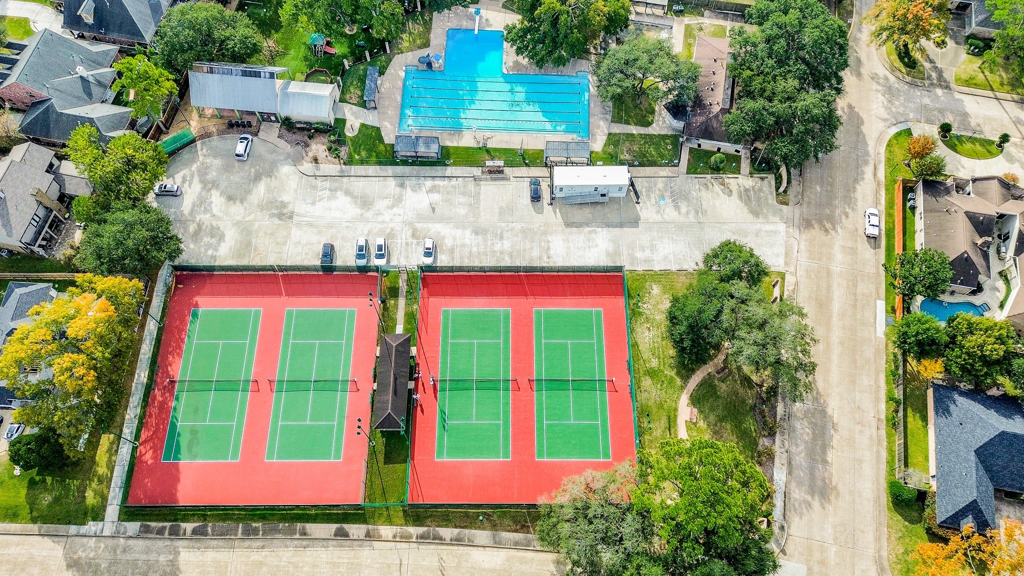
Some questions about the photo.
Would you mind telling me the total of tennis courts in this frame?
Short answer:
4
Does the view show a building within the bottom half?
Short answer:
Yes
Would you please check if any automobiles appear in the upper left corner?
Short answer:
Yes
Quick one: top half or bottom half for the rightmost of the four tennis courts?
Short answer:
bottom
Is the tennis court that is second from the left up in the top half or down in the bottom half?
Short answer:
bottom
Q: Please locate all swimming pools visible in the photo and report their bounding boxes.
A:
[396,28,591,141]
[918,296,993,322]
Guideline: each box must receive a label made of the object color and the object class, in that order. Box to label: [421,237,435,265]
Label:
white car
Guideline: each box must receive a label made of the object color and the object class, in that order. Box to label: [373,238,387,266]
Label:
white car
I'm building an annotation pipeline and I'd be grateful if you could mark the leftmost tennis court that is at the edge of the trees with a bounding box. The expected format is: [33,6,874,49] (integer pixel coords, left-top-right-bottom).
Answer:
[127,272,277,503]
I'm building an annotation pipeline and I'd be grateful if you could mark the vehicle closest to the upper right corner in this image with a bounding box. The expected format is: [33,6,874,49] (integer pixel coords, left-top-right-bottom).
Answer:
[865,208,882,239]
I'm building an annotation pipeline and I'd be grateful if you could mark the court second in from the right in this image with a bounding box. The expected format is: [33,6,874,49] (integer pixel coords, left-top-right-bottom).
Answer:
[409,273,523,501]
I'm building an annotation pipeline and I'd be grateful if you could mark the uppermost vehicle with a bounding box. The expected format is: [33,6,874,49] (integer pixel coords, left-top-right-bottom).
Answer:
[234,136,251,161]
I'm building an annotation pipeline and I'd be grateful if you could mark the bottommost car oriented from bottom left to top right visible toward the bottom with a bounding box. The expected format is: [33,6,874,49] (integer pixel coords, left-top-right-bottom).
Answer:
[0,417,24,447]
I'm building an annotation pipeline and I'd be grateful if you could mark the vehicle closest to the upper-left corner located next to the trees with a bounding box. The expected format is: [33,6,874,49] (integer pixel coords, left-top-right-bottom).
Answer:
[152,183,182,198]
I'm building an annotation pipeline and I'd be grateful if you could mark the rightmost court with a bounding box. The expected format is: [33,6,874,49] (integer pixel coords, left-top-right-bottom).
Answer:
[522,273,638,501]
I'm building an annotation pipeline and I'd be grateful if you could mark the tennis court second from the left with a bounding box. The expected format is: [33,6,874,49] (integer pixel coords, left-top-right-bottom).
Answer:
[248,273,378,502]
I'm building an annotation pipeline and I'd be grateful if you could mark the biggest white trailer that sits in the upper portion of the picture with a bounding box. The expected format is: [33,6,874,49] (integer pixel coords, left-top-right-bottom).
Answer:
[553,166,628,206]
